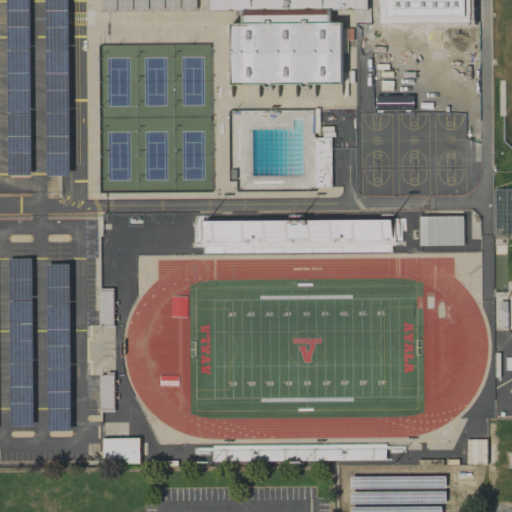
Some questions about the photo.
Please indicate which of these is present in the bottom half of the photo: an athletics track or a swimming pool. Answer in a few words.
athletics track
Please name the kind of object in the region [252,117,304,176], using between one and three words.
swimming pool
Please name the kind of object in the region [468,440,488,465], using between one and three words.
barn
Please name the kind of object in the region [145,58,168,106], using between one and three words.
tennis court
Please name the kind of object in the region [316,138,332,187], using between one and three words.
building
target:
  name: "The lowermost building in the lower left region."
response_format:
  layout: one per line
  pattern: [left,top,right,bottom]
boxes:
[103,438,140,464]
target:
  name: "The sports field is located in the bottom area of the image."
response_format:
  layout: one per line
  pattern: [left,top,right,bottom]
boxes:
[190,280,423,418]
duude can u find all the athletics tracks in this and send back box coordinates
[128,259,488,438]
